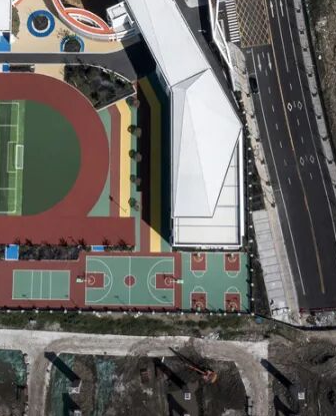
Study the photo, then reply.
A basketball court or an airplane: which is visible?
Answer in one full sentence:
Visible in the photo is a basketball court.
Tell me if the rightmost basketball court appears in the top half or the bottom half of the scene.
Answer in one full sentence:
Seen from above, the rightmost basketball court lies in the bottom half of the view.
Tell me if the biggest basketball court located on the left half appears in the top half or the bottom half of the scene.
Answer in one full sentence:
You can find the biggest basketball court located on the left half in the bottom half.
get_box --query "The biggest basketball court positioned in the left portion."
[85,257,174,306]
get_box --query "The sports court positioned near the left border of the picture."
[13,271,71,301]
